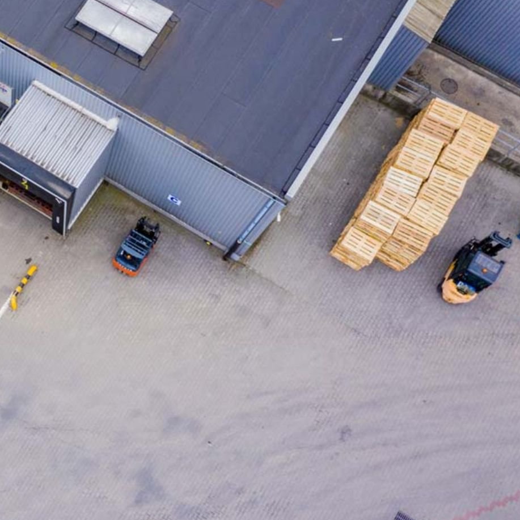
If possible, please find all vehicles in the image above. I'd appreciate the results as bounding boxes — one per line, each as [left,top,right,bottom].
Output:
[114,214,163,275]
[434,231,514,308]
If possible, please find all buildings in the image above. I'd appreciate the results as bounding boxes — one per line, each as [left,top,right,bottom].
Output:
[432,0,520,91]
[0,0,417,262]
